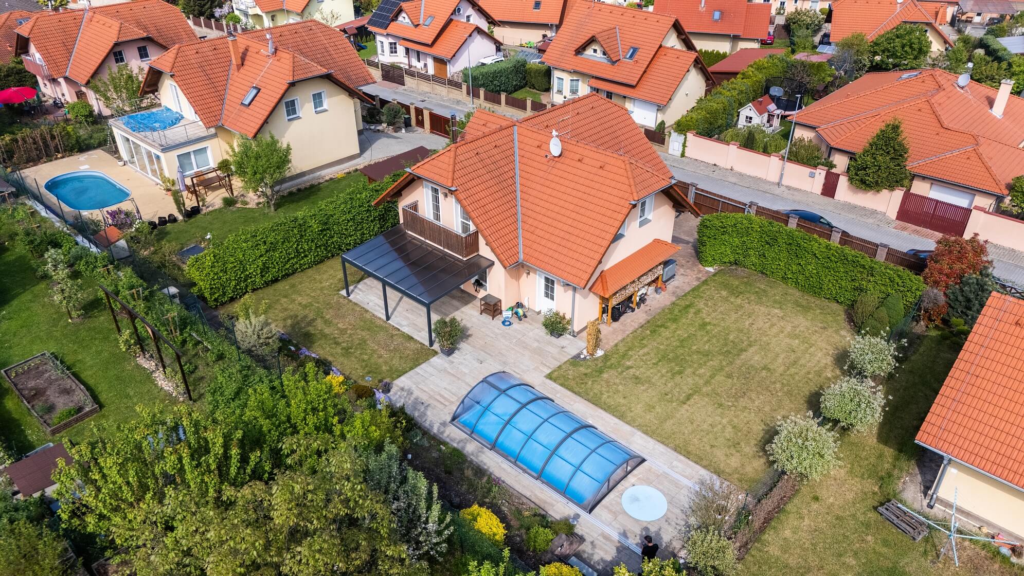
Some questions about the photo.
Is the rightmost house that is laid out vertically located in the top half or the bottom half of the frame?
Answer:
bottom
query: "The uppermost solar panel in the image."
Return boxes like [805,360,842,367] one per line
[355,0,399,25]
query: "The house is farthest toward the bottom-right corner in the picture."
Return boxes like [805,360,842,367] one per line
[912,288,1024,544]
